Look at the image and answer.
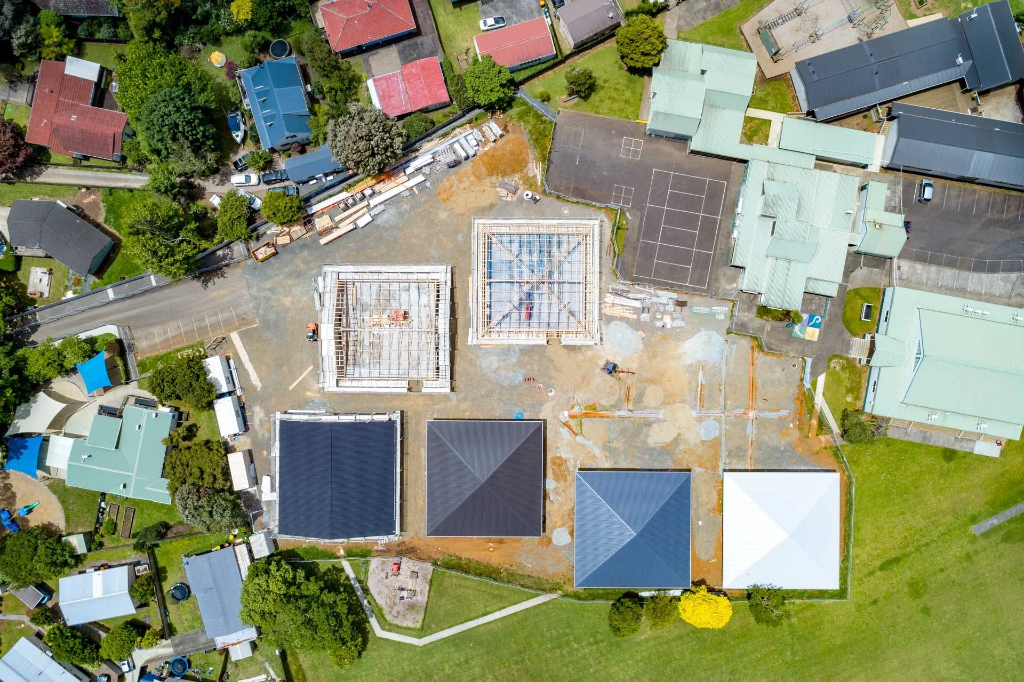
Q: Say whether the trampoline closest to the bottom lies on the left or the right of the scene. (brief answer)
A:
left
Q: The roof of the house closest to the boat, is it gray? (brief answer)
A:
No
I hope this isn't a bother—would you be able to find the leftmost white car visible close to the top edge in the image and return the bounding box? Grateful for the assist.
[479,15,505,31]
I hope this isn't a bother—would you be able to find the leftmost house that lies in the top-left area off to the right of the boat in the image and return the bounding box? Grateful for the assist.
[236,55,311,150]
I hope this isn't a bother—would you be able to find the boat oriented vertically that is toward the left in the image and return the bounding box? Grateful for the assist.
[224,101,242,146]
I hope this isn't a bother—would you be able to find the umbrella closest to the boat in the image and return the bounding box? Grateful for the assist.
[210,51,227,68]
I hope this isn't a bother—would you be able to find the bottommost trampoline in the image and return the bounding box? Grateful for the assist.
[167,582,189,602]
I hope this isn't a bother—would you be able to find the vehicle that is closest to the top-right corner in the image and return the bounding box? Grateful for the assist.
[917,179,932,204]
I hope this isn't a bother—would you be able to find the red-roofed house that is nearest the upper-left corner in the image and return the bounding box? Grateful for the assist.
[27,55,133,163]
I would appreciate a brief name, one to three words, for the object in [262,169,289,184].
car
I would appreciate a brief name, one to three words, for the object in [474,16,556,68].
house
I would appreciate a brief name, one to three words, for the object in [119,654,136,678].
car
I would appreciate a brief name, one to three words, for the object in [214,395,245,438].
building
